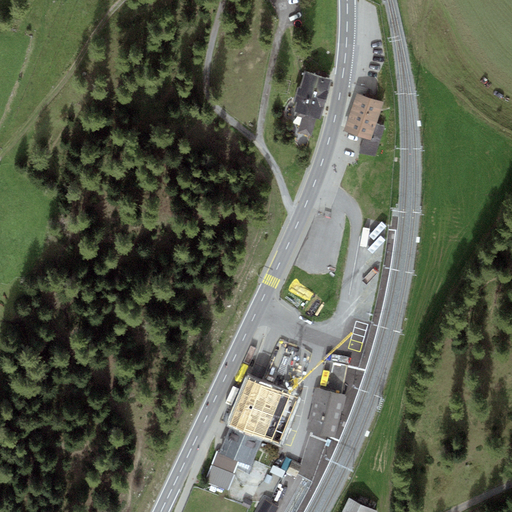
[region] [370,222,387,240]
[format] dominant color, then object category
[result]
white vehicle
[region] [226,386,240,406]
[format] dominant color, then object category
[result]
white vehicle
